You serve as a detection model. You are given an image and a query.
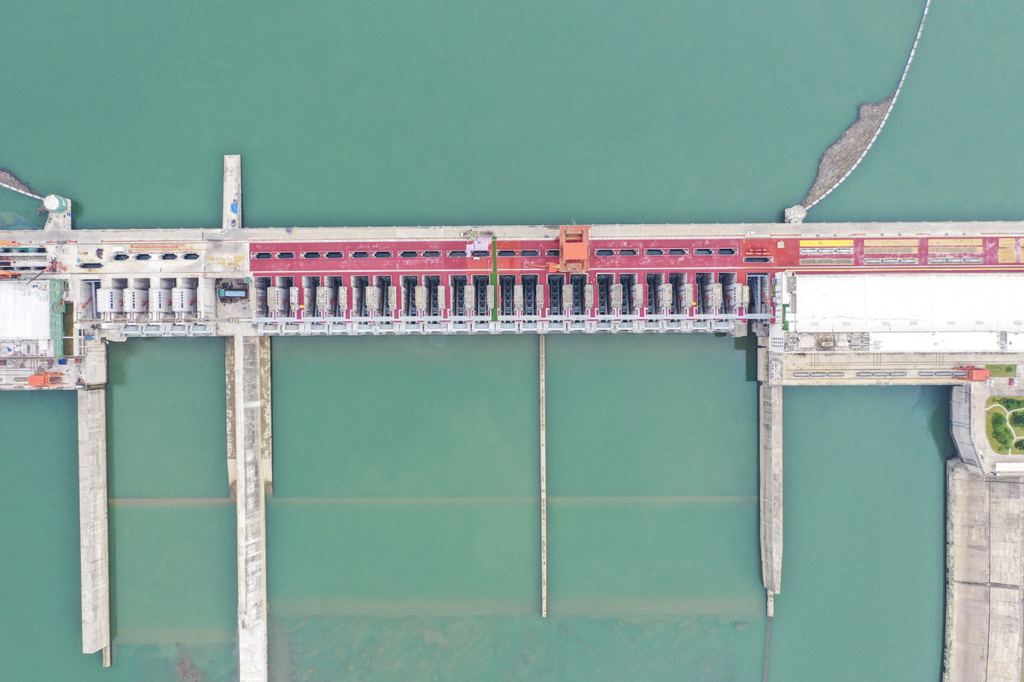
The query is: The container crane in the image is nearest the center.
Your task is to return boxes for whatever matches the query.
[524,225,591,273]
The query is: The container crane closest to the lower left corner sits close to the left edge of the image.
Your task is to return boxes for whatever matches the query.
[28,372,73,387]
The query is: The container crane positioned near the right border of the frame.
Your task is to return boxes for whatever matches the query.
[947,366,990,381]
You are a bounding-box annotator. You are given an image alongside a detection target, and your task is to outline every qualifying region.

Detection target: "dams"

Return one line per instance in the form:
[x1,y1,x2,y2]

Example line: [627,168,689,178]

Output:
[0,222,1024,391]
